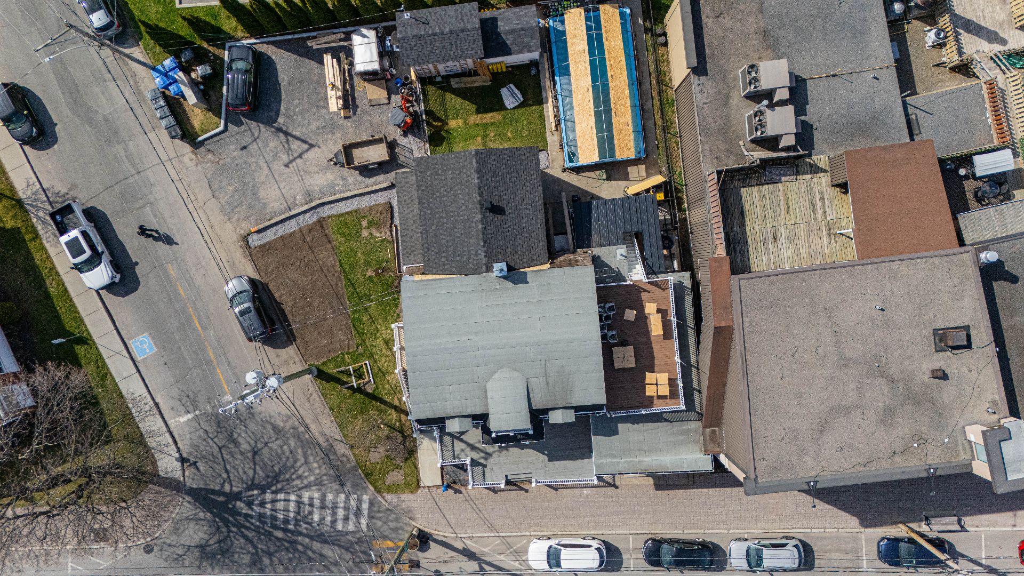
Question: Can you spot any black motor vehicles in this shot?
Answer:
Yes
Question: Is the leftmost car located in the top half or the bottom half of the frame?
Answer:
top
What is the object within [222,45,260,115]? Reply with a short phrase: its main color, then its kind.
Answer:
black car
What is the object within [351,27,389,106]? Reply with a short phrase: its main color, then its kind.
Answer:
white trailer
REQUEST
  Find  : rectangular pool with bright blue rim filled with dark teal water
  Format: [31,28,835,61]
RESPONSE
[547,7,647,170]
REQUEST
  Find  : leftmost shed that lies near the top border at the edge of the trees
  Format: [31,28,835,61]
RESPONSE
[396,2,484,81]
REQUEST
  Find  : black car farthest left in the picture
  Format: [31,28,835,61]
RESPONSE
[0,69,42,146]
